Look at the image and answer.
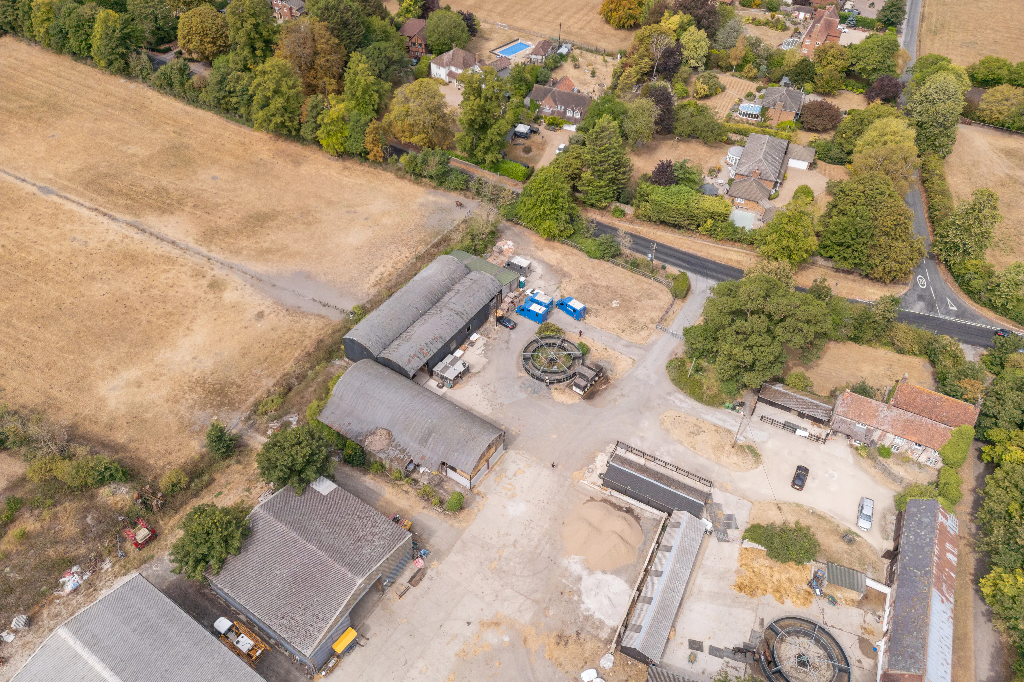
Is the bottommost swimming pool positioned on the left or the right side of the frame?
right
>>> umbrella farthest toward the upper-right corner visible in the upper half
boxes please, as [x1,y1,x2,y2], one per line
[704,178,725,192]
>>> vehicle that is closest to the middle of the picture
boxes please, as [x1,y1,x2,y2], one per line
[494,314,519,328]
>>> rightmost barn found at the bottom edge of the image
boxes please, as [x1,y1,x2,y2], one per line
[882,501,960,682]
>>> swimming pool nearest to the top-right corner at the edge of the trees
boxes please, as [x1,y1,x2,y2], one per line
[729,209,756,229]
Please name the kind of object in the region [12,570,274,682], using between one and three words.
barn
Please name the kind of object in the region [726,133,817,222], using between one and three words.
house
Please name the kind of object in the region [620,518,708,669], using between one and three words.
building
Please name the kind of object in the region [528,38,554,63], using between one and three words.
shed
